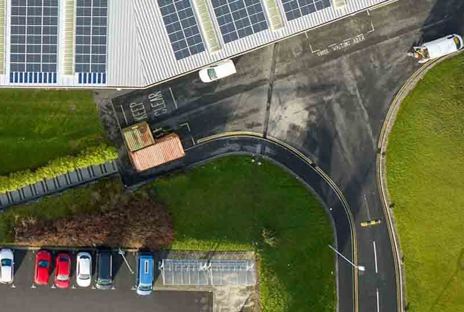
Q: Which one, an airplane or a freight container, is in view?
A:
freight container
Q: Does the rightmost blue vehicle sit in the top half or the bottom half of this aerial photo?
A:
bottom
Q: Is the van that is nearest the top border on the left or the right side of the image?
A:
right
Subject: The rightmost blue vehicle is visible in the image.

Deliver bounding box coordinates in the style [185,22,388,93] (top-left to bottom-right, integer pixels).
[134,248,155,294]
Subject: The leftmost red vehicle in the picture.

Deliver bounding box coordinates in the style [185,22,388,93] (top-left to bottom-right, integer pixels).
[34,249,52,284]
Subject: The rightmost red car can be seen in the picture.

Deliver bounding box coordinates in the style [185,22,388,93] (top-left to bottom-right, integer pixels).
[54,251,71,286]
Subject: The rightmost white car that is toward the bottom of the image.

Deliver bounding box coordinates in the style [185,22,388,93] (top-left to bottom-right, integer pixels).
[75,250,93,284]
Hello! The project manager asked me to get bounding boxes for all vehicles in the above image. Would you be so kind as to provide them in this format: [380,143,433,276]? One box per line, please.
[0,247,15,284]
[34,249,52,284]
[95,248,114,287]
[196,58,239,85]
[54,251,71,286]
[408,33,464,70]
[75,250,93,284]
[134,248,155,294]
